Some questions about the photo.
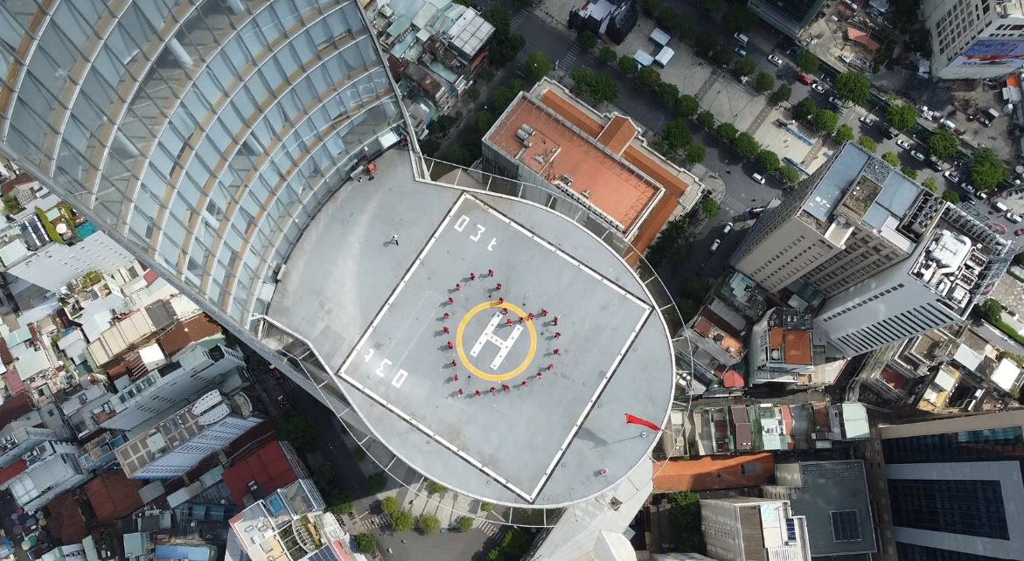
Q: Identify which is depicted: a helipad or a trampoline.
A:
helipad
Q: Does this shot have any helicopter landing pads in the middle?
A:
Yes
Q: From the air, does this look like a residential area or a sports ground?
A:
residential area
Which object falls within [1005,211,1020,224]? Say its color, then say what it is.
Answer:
white vehicle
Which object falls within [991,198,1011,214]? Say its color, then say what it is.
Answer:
white vehicle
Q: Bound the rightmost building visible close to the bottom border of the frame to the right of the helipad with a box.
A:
[856,408,1024,561]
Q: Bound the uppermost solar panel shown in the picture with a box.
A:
[21,214,47,248]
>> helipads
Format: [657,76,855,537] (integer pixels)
[267,126,691,526]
